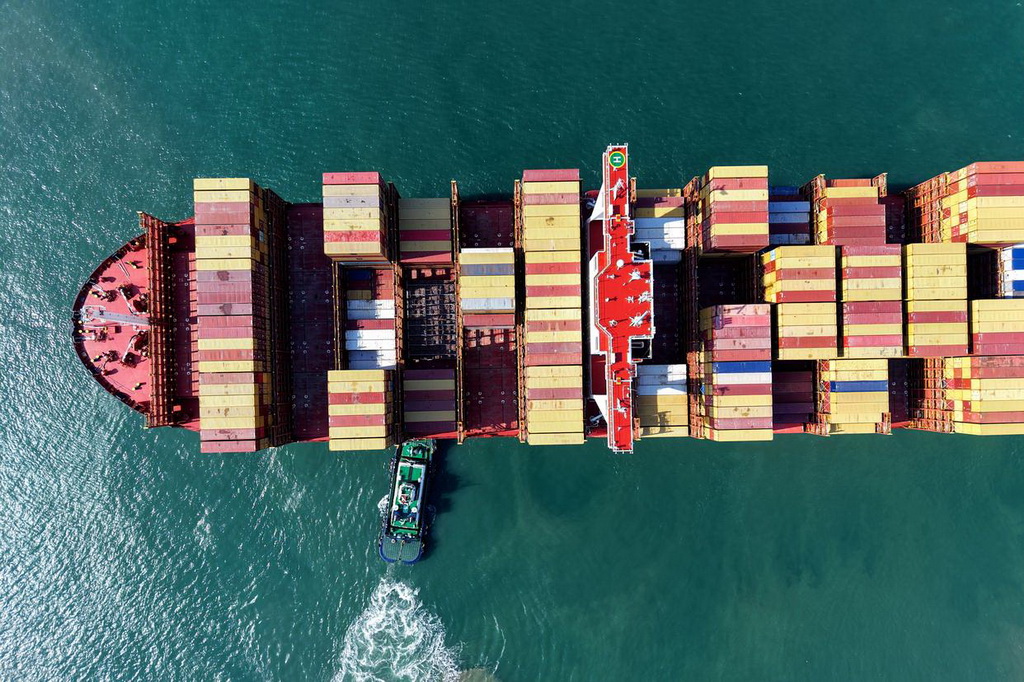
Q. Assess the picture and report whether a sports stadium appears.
No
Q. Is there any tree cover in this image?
No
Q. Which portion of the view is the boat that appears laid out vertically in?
bottom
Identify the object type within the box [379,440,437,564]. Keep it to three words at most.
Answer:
boat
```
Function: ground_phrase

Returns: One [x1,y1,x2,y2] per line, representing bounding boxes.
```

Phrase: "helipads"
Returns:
[609,151,627,170]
